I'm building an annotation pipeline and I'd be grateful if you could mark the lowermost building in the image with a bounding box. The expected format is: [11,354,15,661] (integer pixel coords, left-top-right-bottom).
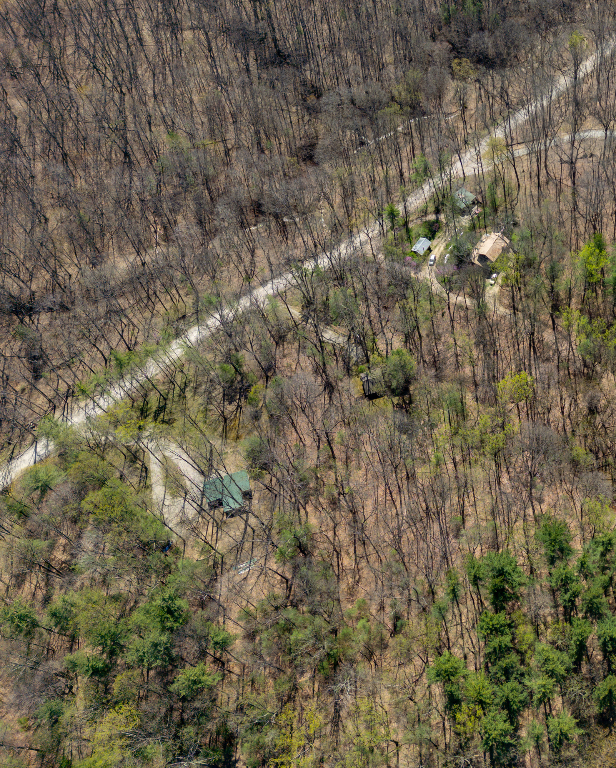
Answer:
[204,469,253,514]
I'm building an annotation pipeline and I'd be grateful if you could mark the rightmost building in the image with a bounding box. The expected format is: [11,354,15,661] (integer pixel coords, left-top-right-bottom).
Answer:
[469,233,510,268]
